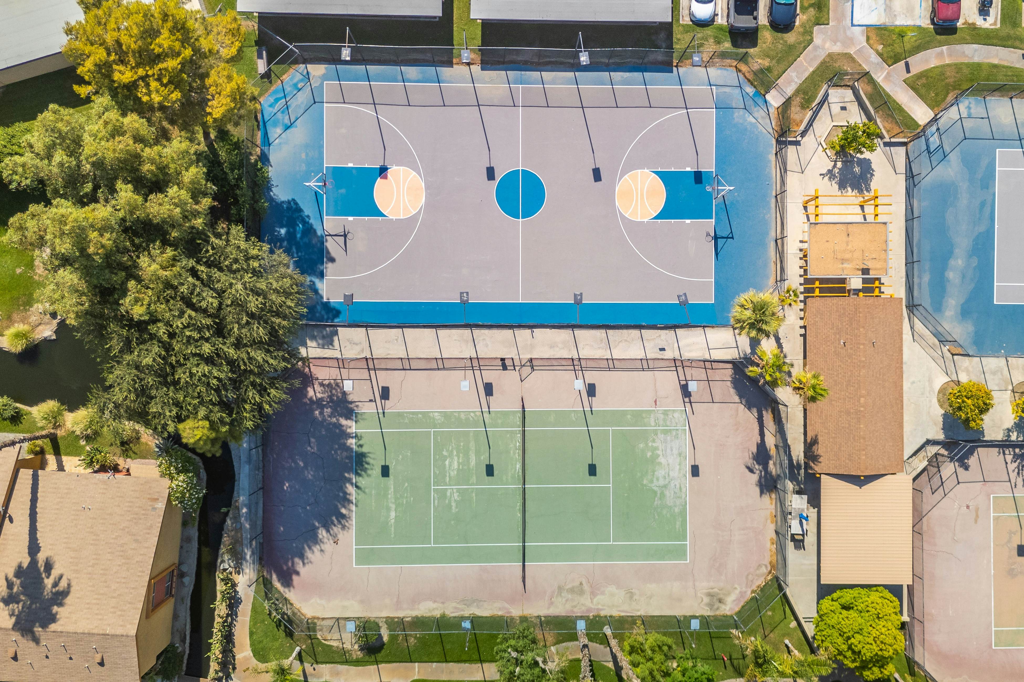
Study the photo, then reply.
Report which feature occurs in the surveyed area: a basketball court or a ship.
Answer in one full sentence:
Visible in the photo is a basketball court.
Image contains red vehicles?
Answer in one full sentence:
Yes, the photo shows a red vehicle.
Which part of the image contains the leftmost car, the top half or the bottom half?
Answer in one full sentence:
The top half of the photo is where the leftmost car is.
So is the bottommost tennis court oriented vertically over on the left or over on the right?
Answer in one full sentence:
It is on the right.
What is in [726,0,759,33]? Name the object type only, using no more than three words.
truck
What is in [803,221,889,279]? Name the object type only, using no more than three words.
building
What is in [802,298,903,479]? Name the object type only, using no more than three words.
building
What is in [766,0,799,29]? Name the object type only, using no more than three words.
car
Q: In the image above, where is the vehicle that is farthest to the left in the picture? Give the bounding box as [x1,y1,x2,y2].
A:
[687,0,715,23]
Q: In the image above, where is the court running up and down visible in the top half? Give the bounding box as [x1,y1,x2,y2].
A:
[907,98,1024,356]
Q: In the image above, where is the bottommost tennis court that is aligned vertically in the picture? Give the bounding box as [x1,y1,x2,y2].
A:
[911,442,1024,682]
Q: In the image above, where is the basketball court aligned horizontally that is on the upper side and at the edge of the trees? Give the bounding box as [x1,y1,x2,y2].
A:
[261,65,776,324]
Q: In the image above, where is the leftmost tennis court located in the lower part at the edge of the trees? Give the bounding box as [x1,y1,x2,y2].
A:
[263,359,776,618]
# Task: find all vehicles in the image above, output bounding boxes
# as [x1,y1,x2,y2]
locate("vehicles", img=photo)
[726,0,759,33]
[979,0,994,9]
[766,0,799,29]
[687,0,715,23]
[929,0,964,26]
